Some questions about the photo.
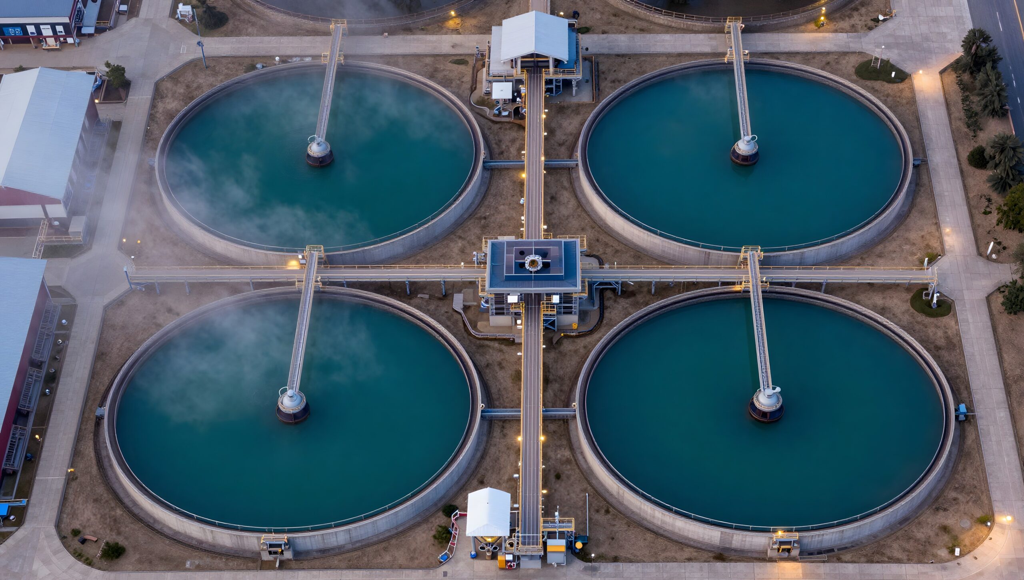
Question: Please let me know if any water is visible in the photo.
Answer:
Yes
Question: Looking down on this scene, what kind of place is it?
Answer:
industrial area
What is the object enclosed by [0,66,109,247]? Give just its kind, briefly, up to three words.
building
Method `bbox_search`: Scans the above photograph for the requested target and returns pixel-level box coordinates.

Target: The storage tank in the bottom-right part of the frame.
[563,286,966,560]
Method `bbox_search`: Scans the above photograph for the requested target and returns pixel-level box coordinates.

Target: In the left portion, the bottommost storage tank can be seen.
[94,287,496,561]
